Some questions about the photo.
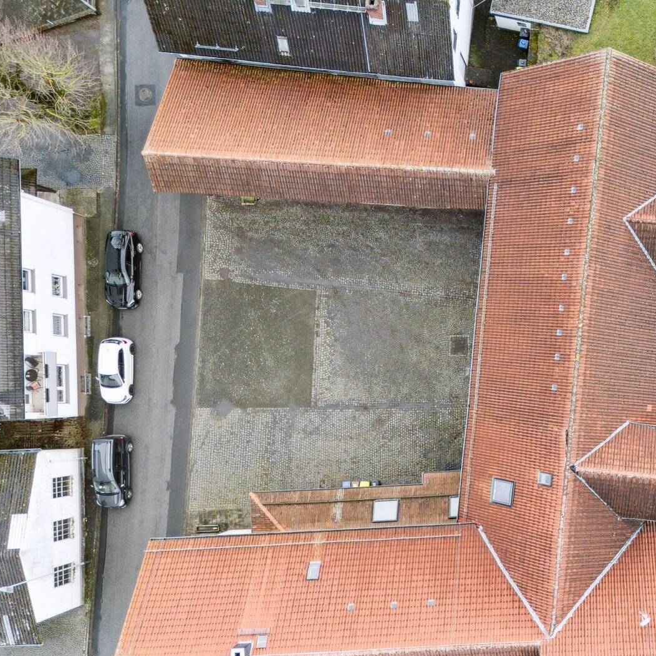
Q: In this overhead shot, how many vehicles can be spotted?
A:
3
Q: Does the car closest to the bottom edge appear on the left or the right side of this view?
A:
left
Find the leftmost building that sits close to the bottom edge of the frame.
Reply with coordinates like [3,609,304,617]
[0,447,84,647]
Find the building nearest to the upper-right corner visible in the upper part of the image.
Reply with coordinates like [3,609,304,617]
[490,0,596,43]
